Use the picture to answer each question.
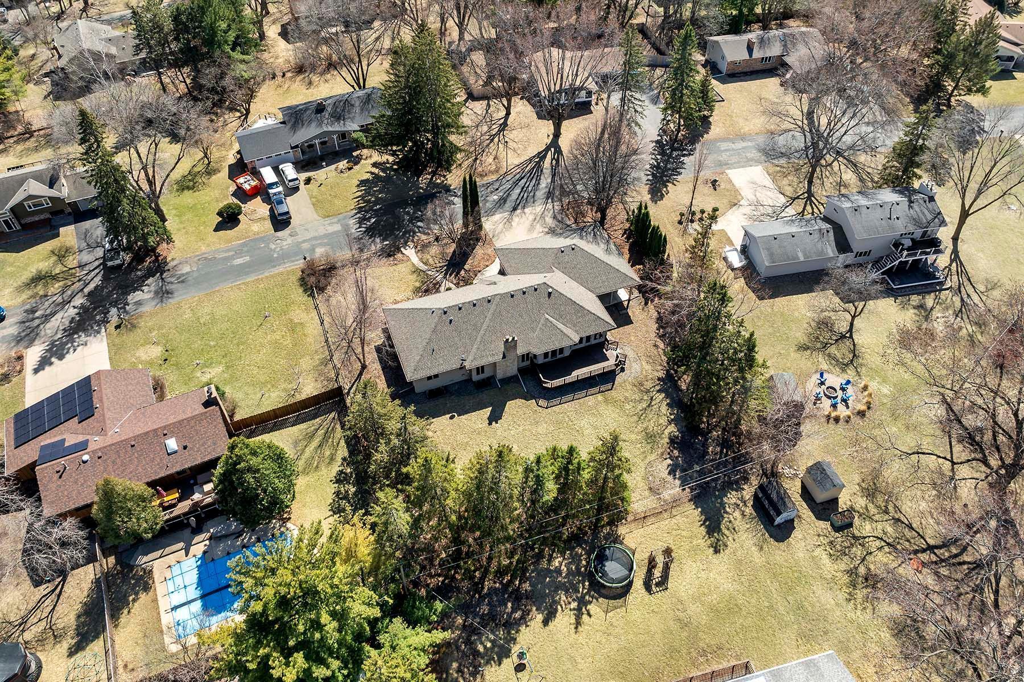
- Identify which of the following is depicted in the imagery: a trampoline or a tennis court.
trampoline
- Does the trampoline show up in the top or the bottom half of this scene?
bottom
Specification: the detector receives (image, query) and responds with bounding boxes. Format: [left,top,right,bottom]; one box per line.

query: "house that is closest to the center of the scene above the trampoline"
[382,222,643,404]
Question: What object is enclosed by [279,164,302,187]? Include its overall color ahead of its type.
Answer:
white car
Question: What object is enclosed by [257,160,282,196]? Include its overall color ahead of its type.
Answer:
white vehicle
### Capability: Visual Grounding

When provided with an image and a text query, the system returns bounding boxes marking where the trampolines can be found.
[589,538,638,595]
